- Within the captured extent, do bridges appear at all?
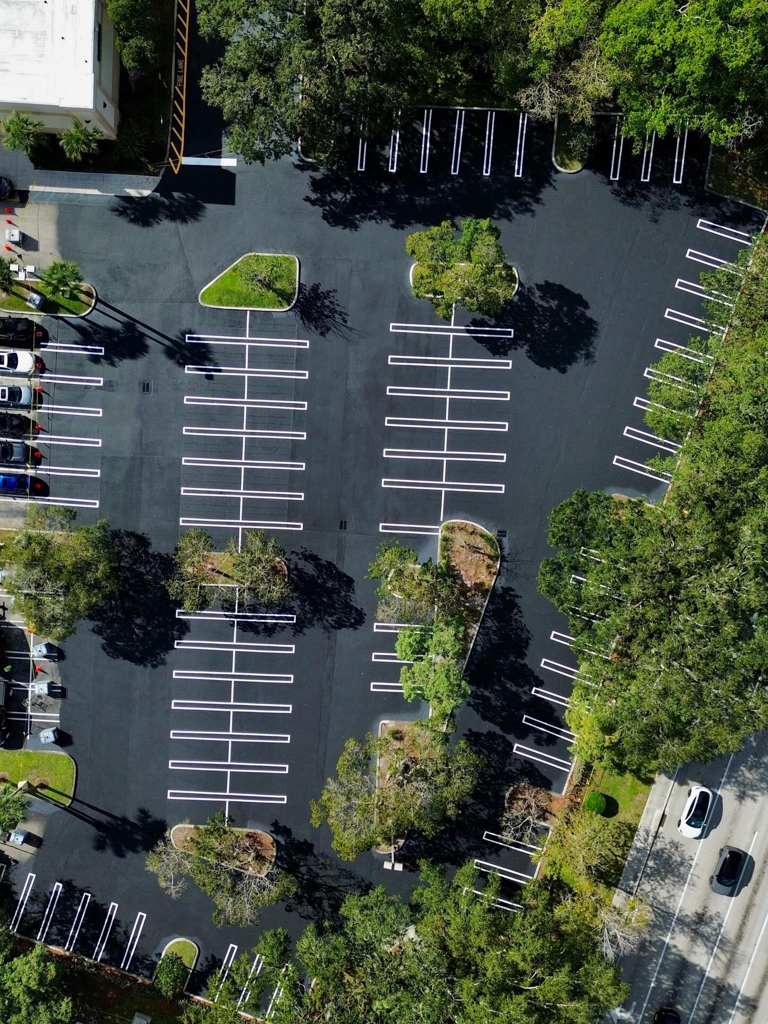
No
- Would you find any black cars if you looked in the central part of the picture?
No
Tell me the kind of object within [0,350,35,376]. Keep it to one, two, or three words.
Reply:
car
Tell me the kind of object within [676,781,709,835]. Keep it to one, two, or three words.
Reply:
car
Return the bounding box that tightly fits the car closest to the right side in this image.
[709,841,743,896]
